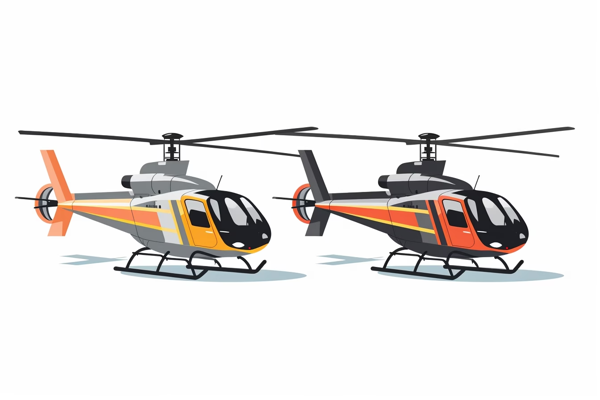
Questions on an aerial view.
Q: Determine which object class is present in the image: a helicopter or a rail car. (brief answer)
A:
helicopter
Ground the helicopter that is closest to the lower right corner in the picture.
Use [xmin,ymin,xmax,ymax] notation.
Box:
[275,128,577,281]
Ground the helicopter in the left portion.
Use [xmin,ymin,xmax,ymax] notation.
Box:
[18,127,319,281]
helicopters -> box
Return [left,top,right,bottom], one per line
[275,128,577,281]
[18,127,319,281]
